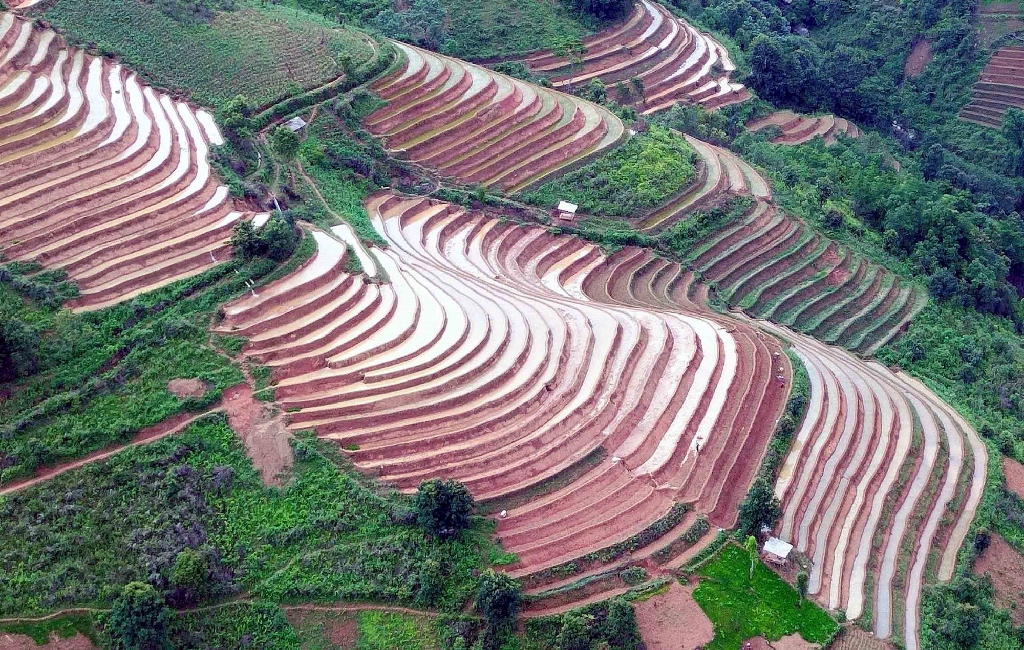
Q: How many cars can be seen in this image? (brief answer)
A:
zero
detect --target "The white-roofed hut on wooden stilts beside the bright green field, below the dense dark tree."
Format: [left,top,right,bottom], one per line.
[764,537,793,566]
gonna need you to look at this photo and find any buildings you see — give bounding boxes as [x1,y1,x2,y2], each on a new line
[764,537,793,566]
[285,116,308,137]
[557,201,578,224]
